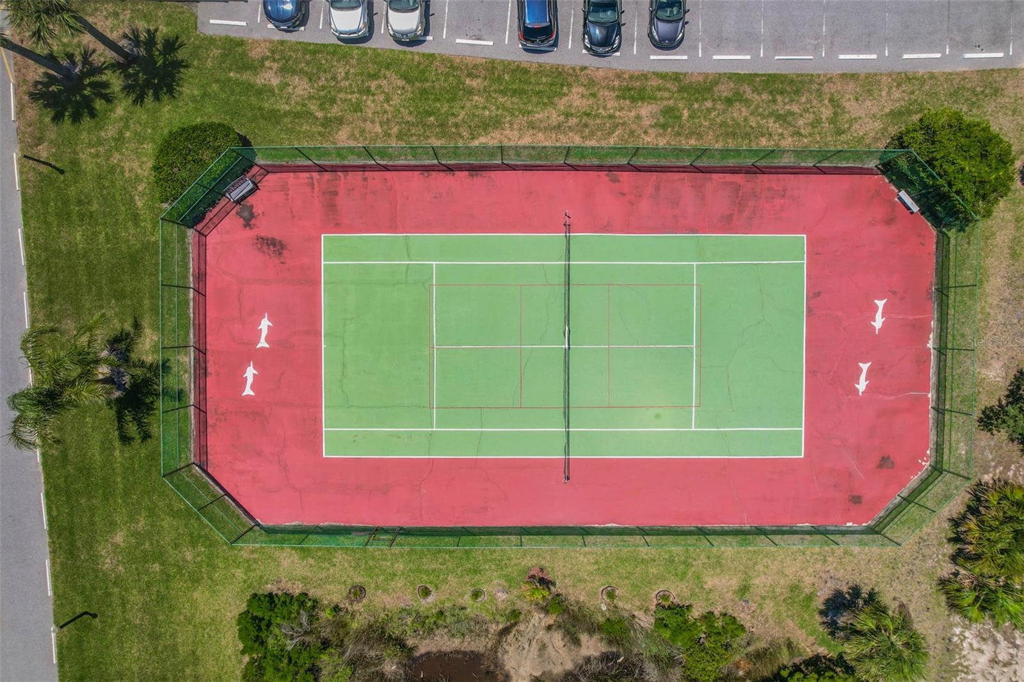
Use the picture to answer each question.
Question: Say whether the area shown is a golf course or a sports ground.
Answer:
sports ground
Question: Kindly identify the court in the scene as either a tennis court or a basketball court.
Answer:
tennis court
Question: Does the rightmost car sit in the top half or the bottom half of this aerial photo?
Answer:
top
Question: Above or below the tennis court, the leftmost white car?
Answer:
above it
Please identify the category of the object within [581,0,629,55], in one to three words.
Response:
car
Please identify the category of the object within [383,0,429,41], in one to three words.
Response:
car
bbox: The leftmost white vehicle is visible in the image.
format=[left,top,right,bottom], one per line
[328,0,371,39]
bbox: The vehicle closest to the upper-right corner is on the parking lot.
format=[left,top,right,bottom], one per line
[647,0,692,48]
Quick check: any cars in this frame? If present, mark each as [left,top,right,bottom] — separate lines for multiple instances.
[383,0,429,41]
[328,0,371,39]
[647,0,692,48]
[581,0,629,55]
[519,0,559,49]
[263,0,305,29]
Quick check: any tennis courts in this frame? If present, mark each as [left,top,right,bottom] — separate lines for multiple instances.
[189,159,939,531]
